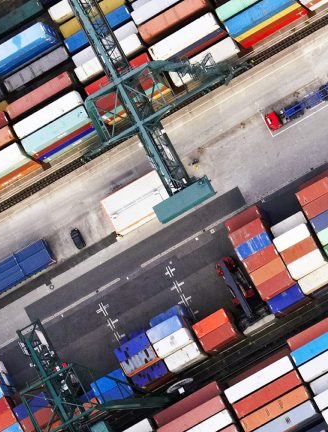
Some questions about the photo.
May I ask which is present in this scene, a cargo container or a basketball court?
cargo container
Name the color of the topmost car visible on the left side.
black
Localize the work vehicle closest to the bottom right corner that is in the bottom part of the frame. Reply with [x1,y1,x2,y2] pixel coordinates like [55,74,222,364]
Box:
[216,254,273,334]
